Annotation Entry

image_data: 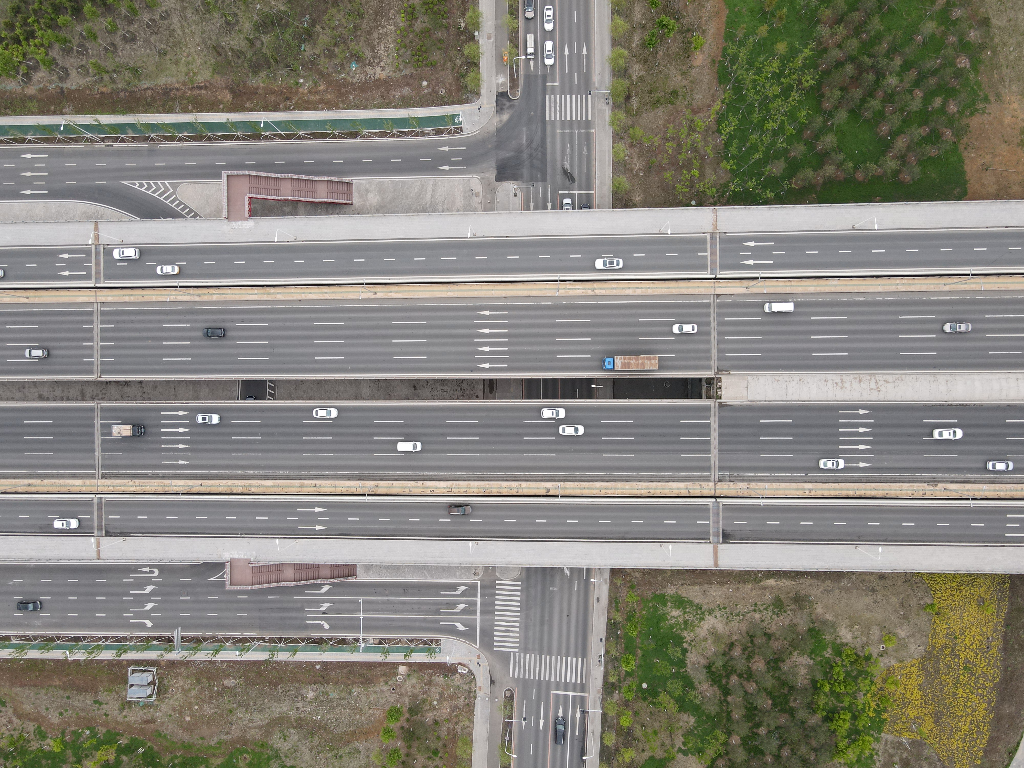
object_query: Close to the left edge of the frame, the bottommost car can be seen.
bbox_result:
[17,600,43,612]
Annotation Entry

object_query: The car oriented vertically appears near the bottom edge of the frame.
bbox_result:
[554,717,567,745]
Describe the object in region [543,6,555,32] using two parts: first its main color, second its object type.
white vehicle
